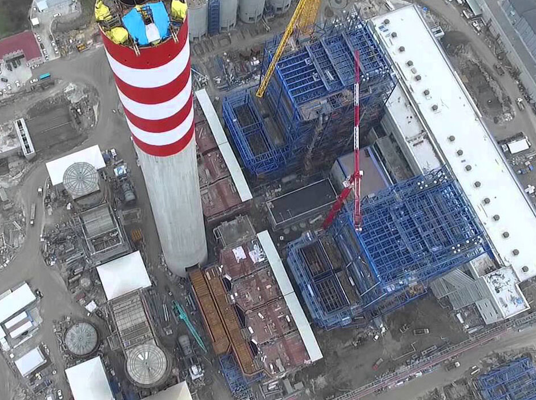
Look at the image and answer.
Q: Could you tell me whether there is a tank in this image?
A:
Yes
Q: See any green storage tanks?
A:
No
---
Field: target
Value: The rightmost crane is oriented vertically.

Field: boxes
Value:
[321,50,363,235]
